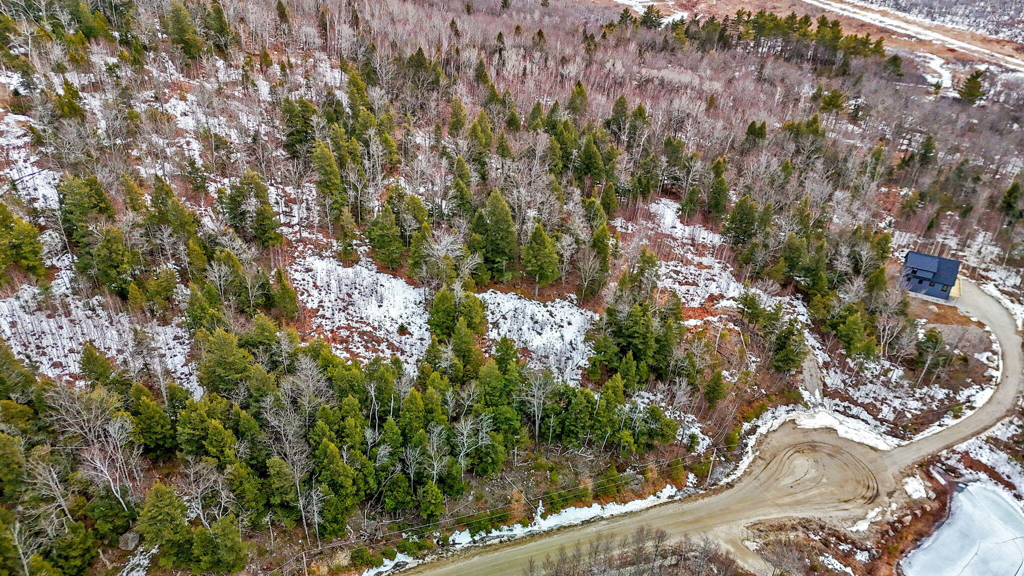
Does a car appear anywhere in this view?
No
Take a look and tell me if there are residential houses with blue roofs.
Yes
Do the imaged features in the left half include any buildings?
No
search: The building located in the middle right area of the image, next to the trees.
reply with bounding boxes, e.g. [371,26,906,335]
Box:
[903,250,964,302]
